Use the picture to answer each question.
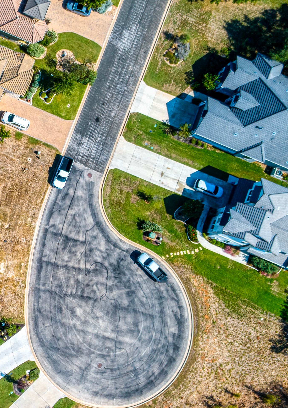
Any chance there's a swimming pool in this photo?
No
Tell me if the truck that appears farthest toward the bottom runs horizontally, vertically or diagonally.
diagonally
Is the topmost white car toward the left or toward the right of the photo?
left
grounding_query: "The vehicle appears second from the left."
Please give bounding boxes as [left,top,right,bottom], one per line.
[51,154,76,190]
